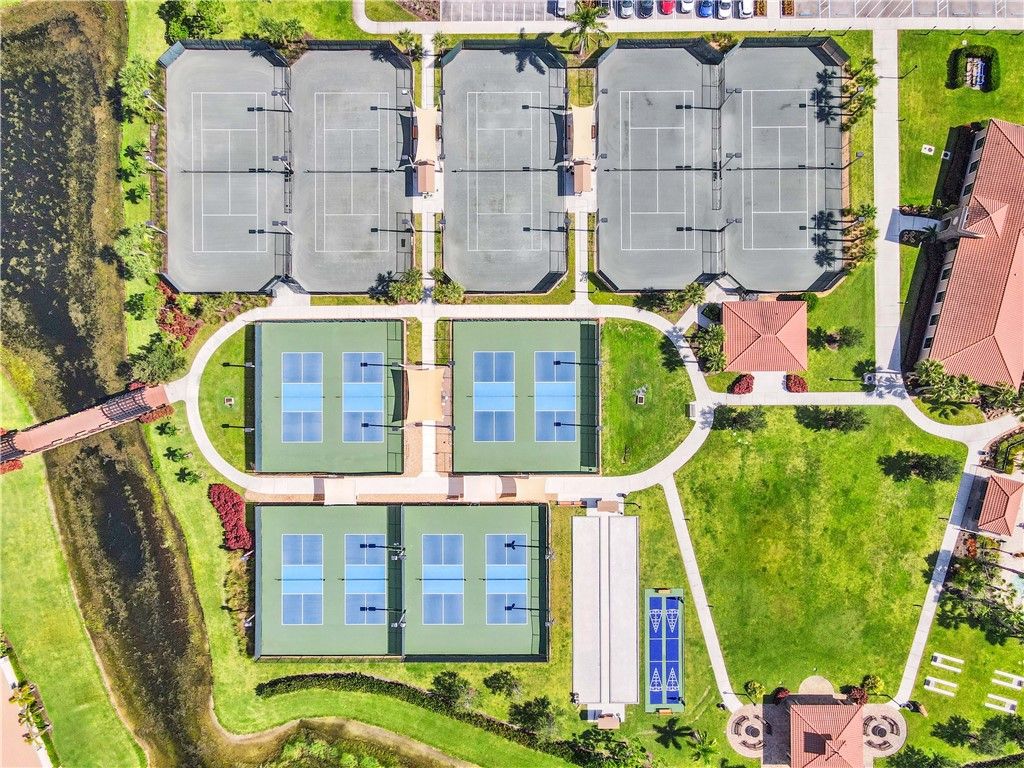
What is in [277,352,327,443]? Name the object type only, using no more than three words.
sports court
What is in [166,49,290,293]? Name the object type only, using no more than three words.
tennis court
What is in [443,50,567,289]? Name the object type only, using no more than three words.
tennis court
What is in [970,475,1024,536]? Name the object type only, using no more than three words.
building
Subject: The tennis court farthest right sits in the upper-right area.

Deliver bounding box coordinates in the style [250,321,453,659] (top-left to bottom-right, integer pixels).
[722,47,844,290]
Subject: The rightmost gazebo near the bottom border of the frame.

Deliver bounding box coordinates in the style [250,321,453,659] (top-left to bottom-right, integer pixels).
[785,698,863,768]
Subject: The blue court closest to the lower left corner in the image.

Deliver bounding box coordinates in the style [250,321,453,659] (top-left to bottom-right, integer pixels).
[277,534,327,625]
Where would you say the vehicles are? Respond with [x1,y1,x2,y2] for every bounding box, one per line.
[681,0,694,11]
[718,0,733,17]
[554,0,569,13]
[620,0,636,16]
[699,0,715,15]
[739,0,755,17]
[640,0,655,16]
[662,0,675,13]
[597,0,612,14]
